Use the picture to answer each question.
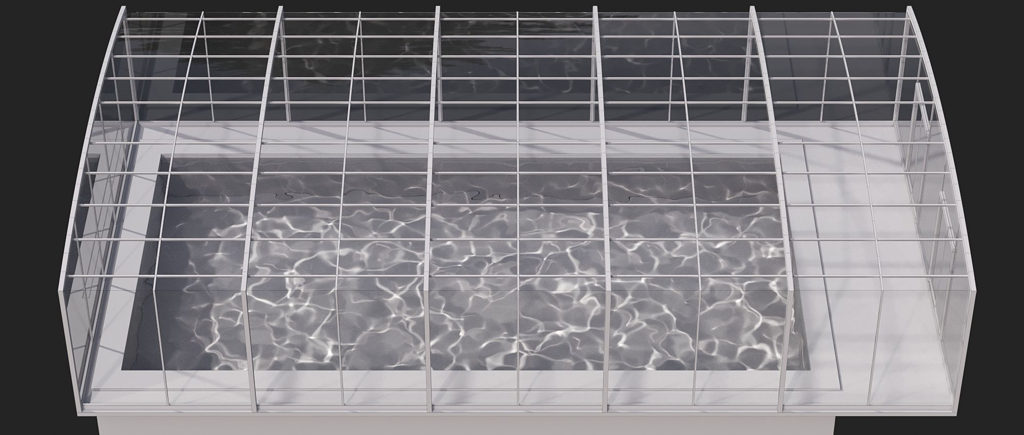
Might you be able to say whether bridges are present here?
No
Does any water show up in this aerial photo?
Yes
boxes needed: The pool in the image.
[92,139,840,435]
